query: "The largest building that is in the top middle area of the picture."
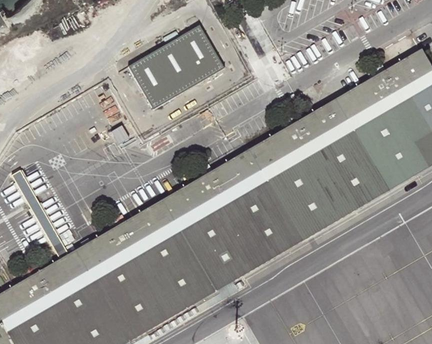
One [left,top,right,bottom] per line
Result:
[128,22,224,109]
